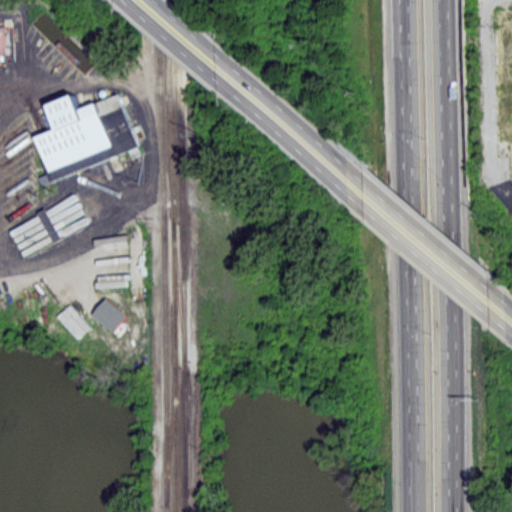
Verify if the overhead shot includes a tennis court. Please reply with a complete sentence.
No, no tennis court is visible in the view.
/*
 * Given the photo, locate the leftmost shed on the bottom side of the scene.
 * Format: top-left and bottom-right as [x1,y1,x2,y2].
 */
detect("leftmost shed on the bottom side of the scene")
[57,306,94,340]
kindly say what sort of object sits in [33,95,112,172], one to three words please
building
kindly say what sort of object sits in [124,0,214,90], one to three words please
overpass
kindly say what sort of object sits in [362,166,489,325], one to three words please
overpass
